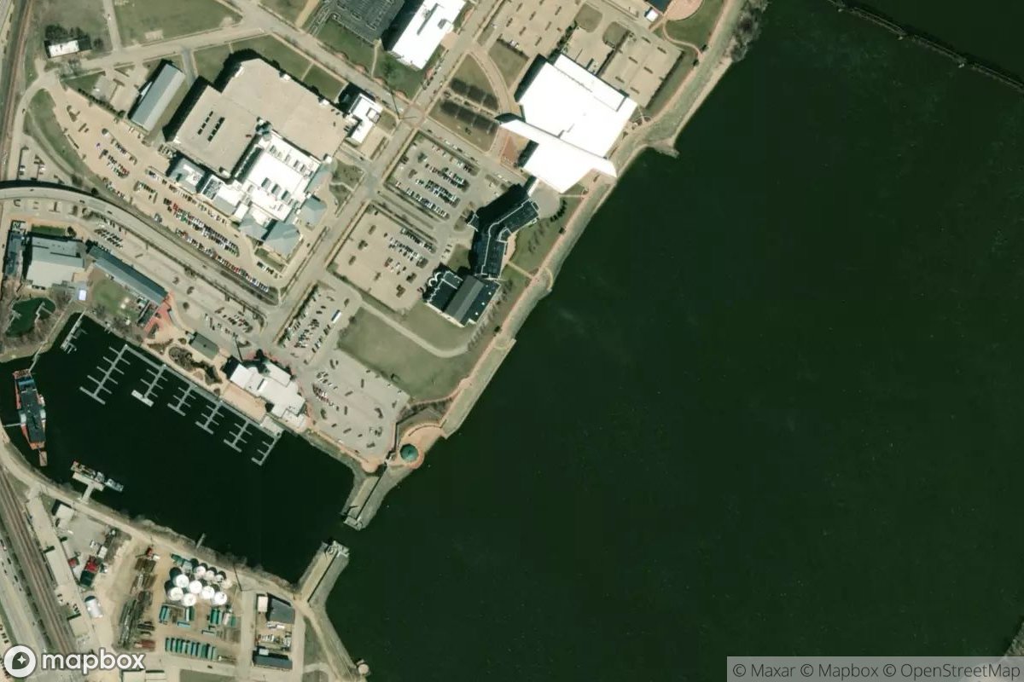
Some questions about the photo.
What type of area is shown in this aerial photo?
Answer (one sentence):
The picture captures a port.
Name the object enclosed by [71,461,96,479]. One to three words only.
ship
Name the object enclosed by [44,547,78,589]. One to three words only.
building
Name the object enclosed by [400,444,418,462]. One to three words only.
gazebo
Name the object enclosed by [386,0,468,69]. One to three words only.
building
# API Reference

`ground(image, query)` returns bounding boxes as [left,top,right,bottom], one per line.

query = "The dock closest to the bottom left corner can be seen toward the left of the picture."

[72,472,104,505]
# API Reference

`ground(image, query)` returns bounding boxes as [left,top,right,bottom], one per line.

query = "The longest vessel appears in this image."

[3,356,47,450]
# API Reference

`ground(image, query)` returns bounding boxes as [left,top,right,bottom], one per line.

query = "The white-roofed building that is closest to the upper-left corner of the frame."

[47,40,80,57]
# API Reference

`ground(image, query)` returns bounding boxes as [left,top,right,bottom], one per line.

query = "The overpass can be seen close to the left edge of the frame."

[0,187,271,319]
